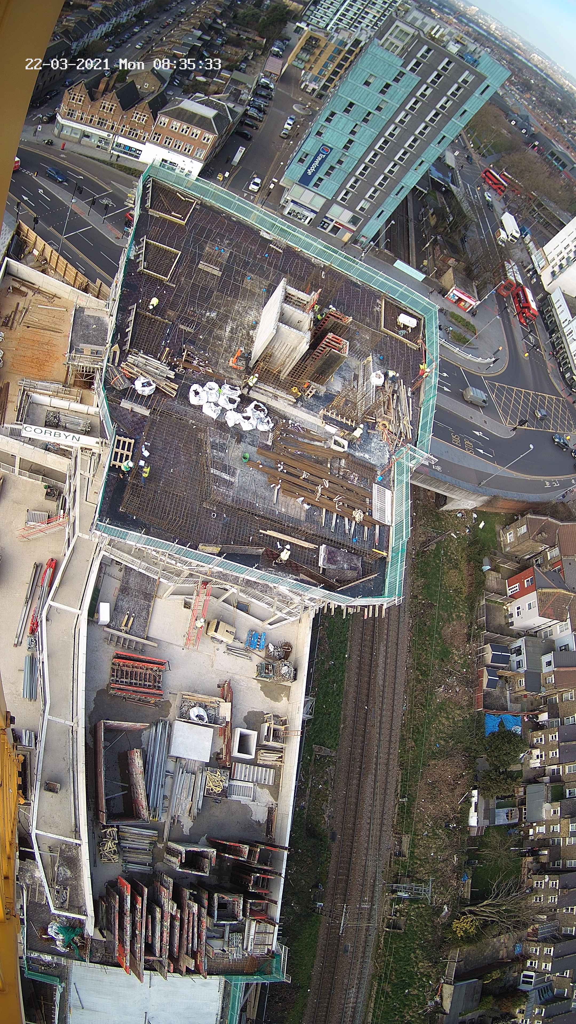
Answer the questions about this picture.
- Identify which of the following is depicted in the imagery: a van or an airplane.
van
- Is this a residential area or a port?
residential area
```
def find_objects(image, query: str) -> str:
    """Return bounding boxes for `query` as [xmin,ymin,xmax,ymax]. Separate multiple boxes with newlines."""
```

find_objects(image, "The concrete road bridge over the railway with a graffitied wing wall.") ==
[394,467,496,516]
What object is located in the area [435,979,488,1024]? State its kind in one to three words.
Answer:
shed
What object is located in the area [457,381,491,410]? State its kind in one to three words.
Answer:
van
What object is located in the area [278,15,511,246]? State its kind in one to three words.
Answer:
building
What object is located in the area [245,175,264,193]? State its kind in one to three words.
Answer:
car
